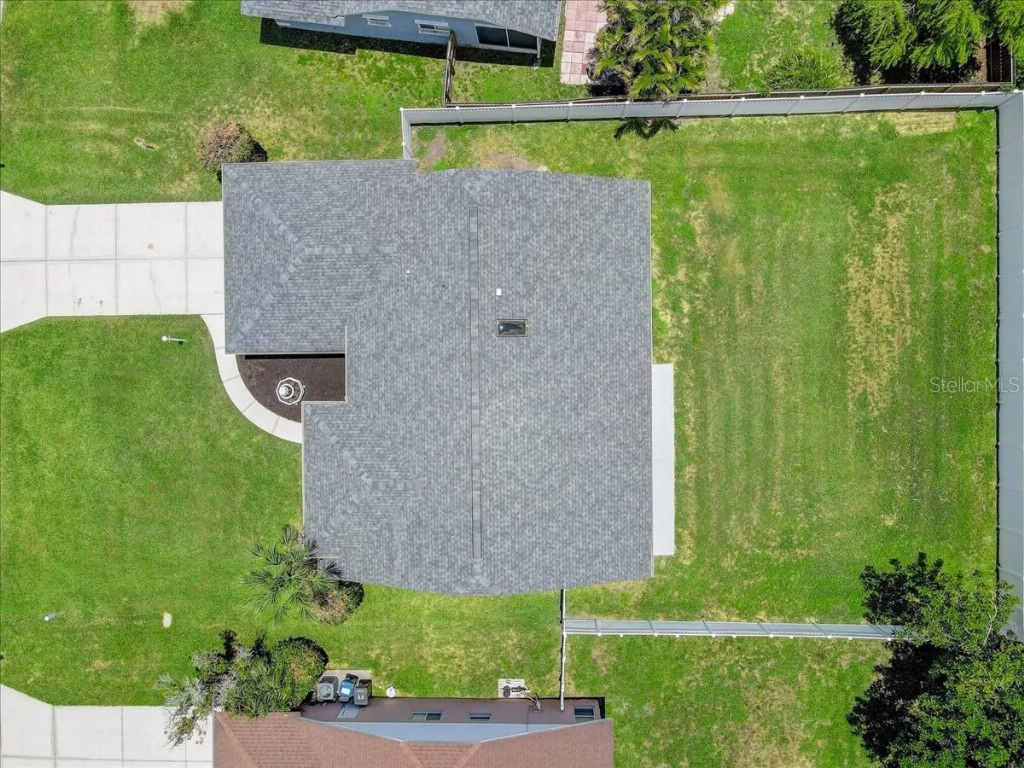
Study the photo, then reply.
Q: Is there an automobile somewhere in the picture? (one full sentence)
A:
No, I can't see a single automobile in this photo.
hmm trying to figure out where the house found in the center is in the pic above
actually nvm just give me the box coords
[222,162,653,595]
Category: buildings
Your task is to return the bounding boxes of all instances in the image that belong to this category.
[241,0,562,74]
[222,162,653,595]
[213,693,613,768]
